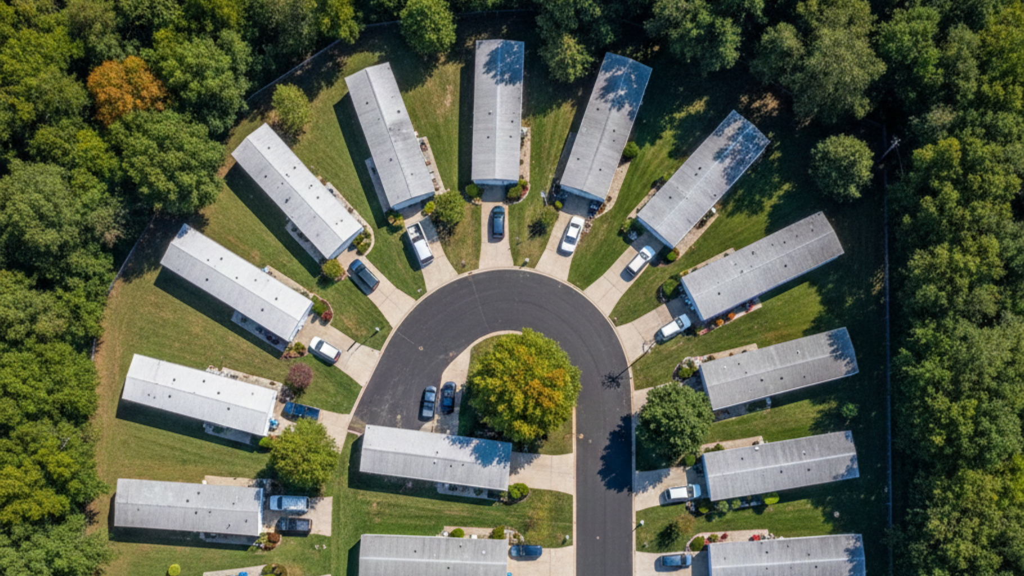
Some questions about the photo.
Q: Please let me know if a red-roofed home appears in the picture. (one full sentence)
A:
No, there appears to be no red-roofed home in this shot.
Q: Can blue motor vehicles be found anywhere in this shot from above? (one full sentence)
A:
Yes, the photo shows a blue motor vehicle.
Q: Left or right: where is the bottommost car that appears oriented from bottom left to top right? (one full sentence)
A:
The bottommost car that appears oriented from bottom left to top right appears in the right half of the scene.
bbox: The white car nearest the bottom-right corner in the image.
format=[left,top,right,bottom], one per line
[666,486,700,500]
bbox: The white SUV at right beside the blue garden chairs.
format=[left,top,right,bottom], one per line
[658,316,691,340]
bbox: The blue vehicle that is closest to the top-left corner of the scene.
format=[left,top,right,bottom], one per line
[352,260,381,291]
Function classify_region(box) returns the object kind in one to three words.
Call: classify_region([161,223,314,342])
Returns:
house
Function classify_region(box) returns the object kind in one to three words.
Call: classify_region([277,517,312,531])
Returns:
car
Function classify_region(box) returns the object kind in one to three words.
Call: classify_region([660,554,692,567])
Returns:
vehicle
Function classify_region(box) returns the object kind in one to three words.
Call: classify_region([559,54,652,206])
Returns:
house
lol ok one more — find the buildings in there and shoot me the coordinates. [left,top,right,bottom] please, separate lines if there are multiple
[559,54,652,206]
[345,62,435,211]
[122,353,282,437]
[471,38,524,187]
[161,223,314,342]
[698,327,858,411]
[706,534,866,576]
[636,109,770,252]
[701,430,859,502]
[359,533,508,576]
[231,122,364,262]
[113,478,268,536]
[360,424,513,491]
[680,211,843,323]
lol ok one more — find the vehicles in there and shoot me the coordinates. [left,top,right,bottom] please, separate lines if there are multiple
[626,247,655,277]
[492,207,506,240]
[310,338,342,362]
[407,223,433,266]
[510,544,542,556]
[666,486,700,500]
[660,554,692,567]
[423,386,438,420]
[563,217,584,252]
[442,382,456,414]
[658,316,691,340]
[284,402,321,421]
[352,260,381,291]
[271,496,310,511]
[277,517,312,531]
